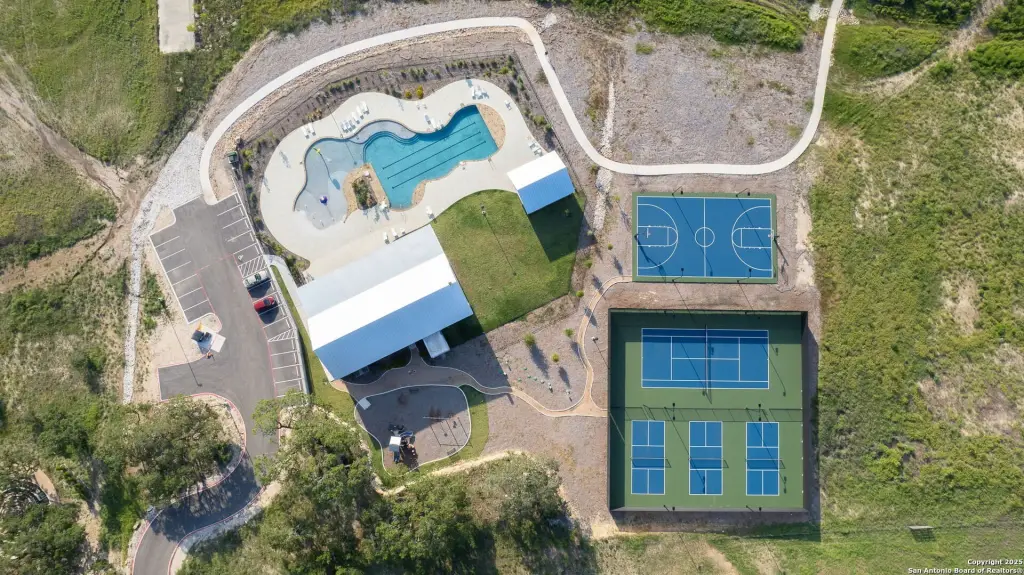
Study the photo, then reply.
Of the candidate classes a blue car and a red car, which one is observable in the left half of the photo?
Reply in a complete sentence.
You can see a red car in the left half of the photo.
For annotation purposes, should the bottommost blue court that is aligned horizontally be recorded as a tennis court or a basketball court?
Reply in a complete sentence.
From above, the bottommost blue court that is aligned horizontally can be identified as a tennis court.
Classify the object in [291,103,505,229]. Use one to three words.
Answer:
swimming pool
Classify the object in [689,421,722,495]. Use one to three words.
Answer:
sports court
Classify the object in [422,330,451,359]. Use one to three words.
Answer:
building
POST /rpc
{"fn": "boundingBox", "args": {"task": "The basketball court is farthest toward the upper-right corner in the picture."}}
[632,192,777,283]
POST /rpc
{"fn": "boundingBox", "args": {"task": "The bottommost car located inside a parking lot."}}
[250,294,277,312]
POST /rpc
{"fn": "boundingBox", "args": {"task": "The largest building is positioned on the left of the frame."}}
[296,223,472,380]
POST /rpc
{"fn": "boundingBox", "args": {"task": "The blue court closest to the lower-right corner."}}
[746,422,779,496]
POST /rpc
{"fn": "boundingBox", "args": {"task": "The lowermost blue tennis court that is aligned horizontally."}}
[642,329,769,389]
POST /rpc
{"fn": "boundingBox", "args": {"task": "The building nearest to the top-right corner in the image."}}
[508,149,574,213]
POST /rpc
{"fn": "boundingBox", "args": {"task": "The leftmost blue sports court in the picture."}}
[632,421,665,494]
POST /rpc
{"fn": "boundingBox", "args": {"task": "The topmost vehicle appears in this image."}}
[240,270,269,289]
